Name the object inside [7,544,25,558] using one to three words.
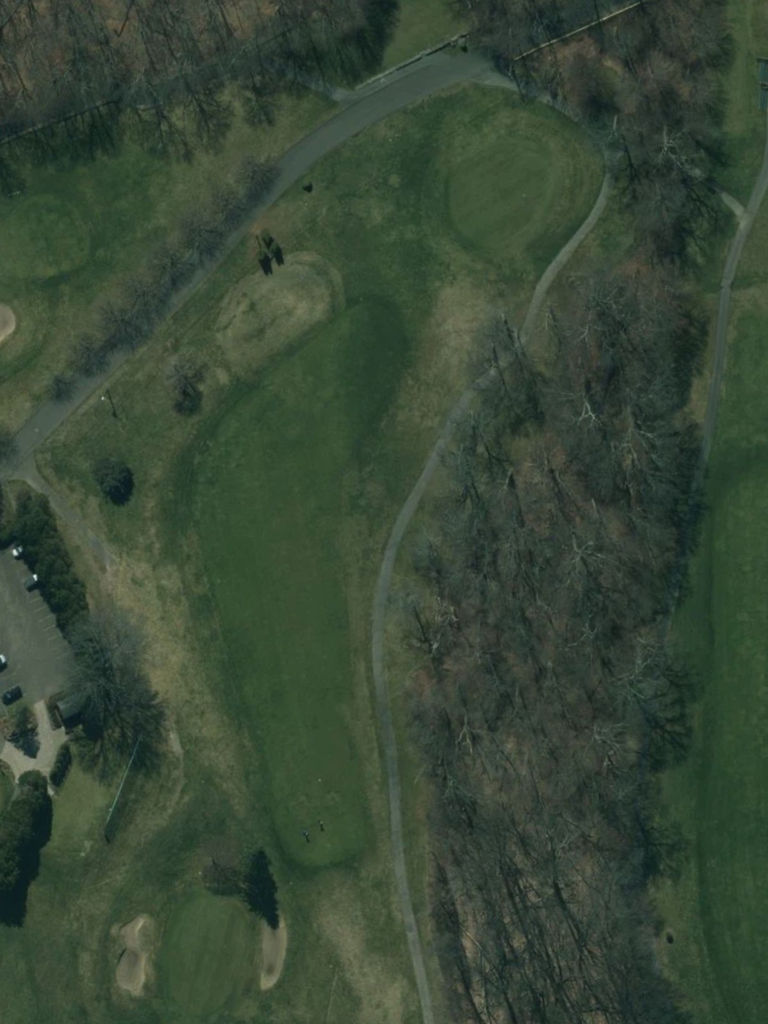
car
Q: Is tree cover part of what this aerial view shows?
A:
Yes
